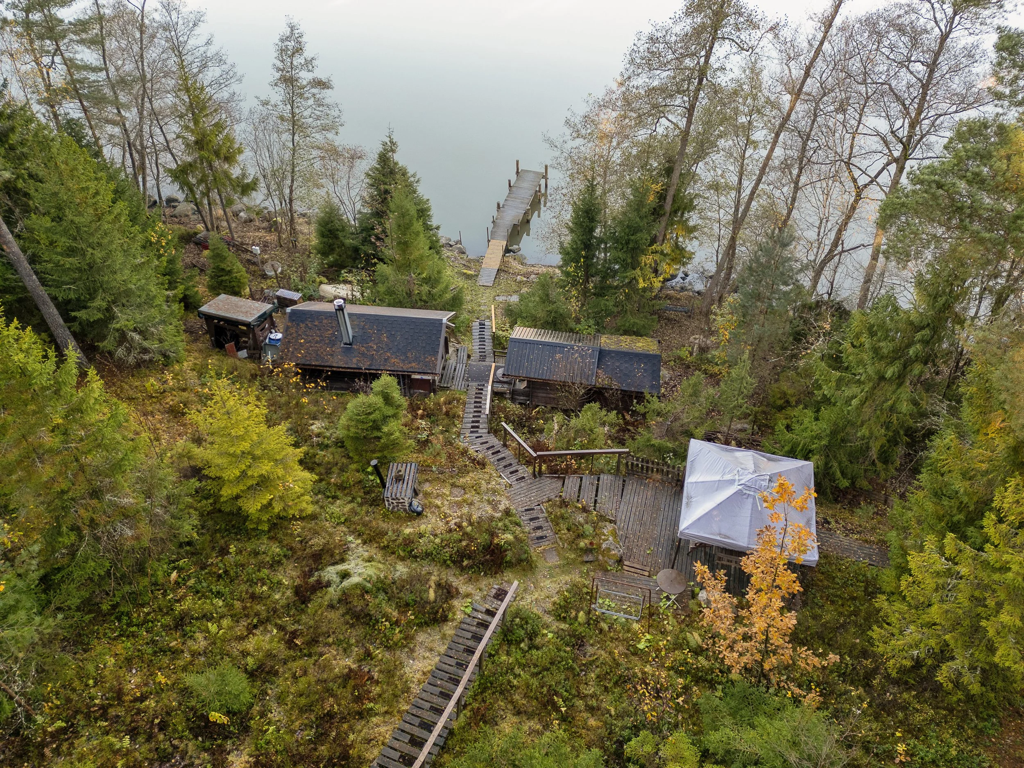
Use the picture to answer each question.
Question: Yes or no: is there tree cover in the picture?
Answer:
Yes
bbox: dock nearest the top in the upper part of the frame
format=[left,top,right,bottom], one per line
[491,158,550,242]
